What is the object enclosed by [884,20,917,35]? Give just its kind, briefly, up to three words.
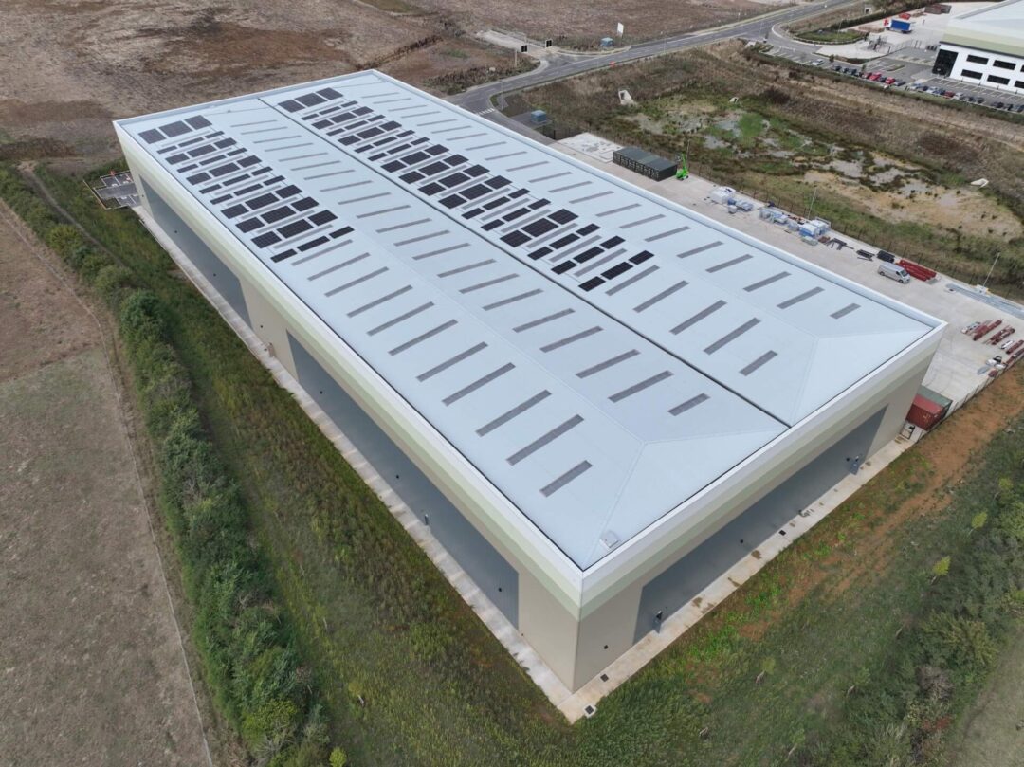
vehicle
